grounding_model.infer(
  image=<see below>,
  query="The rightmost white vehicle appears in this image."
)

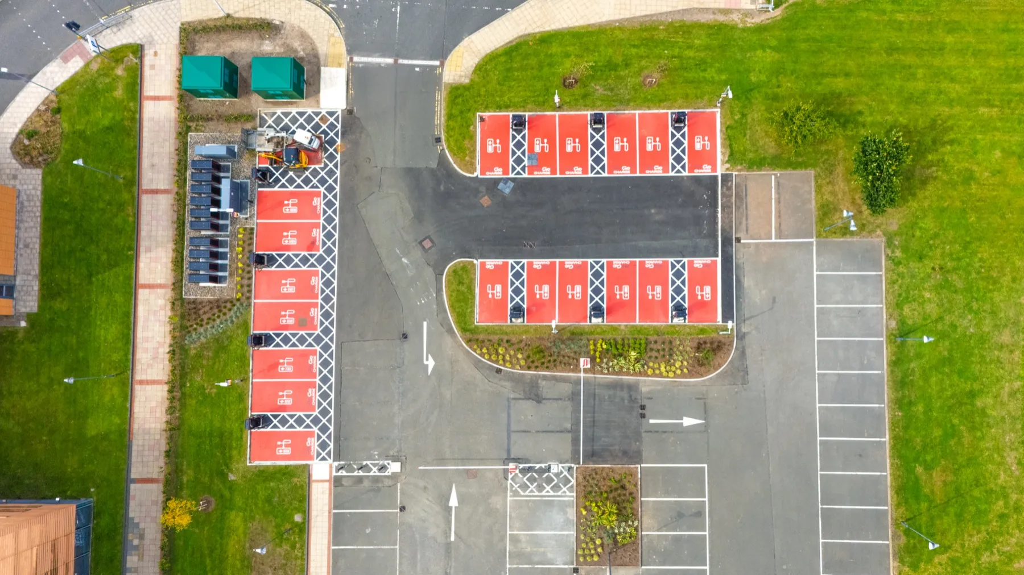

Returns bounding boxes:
[295,129,324,154]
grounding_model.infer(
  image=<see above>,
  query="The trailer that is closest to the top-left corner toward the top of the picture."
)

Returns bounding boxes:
[230,125,295,155]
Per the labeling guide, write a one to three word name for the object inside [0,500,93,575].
building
